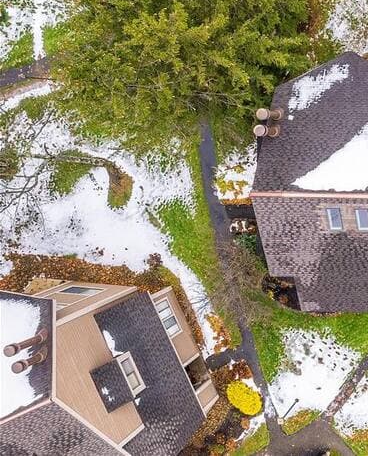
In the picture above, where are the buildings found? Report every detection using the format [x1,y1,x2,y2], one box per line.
[251,52,368,312]
[0,280,222,456]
